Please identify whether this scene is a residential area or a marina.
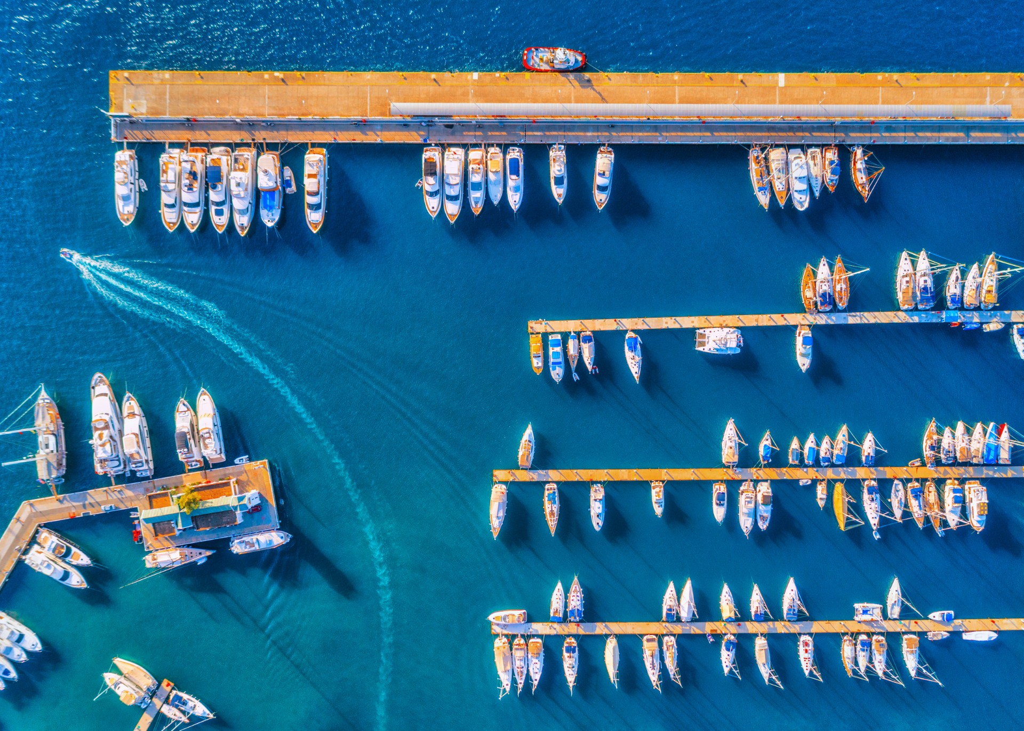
marina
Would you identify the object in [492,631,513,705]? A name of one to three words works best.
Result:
boat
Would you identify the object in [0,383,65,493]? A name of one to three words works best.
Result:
vessel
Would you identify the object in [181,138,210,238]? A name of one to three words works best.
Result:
boat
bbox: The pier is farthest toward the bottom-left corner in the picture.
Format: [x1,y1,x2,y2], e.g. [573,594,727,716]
[134,678,175,731]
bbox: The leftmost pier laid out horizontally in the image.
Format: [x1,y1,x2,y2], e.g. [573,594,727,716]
[0,460,281,593]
